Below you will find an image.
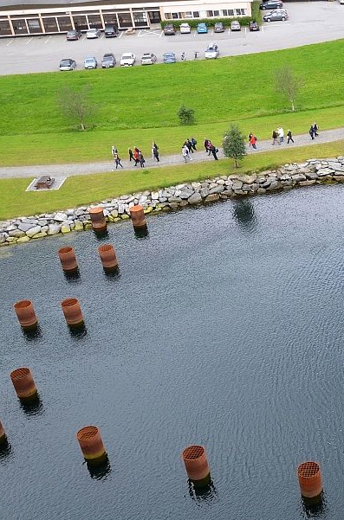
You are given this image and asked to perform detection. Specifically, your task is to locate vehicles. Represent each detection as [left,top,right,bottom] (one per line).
[263,0,282,9]
[247,19,260,30]
[86,24,102,37]
[139,51,154,64]
[161,48,177,62]
[203,44,217,58]
[264,9,290,21]
[196,19,209,31]
[105,21,121,36]
[212,19,225,30]
[119,50,136,65]
[229,17,242,29]
[179,20,192,31]
[163,21,177,34]
[65,26,82,39]
[82,53,99,68]
[59,56,76,70]
[100,50,117,67]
